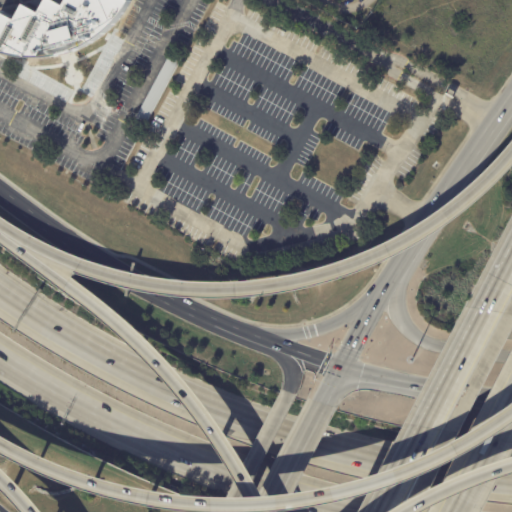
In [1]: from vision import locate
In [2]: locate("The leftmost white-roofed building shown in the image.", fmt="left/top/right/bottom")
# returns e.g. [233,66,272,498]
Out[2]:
[0,0,128,58]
